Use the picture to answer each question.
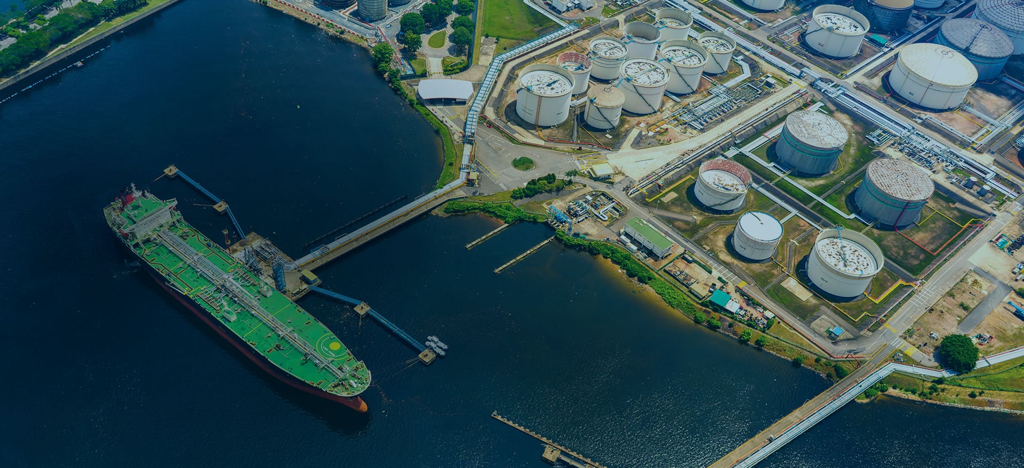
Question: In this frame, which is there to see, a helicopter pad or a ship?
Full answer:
I can see a ship in this picture.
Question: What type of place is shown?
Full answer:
It's an industrial area.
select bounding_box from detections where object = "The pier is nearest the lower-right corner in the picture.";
[492,409,611,468]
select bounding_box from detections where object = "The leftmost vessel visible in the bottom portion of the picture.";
[97,184,369,411]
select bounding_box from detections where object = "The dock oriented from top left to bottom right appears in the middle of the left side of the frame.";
[227,232,323,302]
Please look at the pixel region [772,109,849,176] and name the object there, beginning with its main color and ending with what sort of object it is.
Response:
white storage tank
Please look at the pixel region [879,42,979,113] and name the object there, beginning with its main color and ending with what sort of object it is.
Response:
white storage tank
